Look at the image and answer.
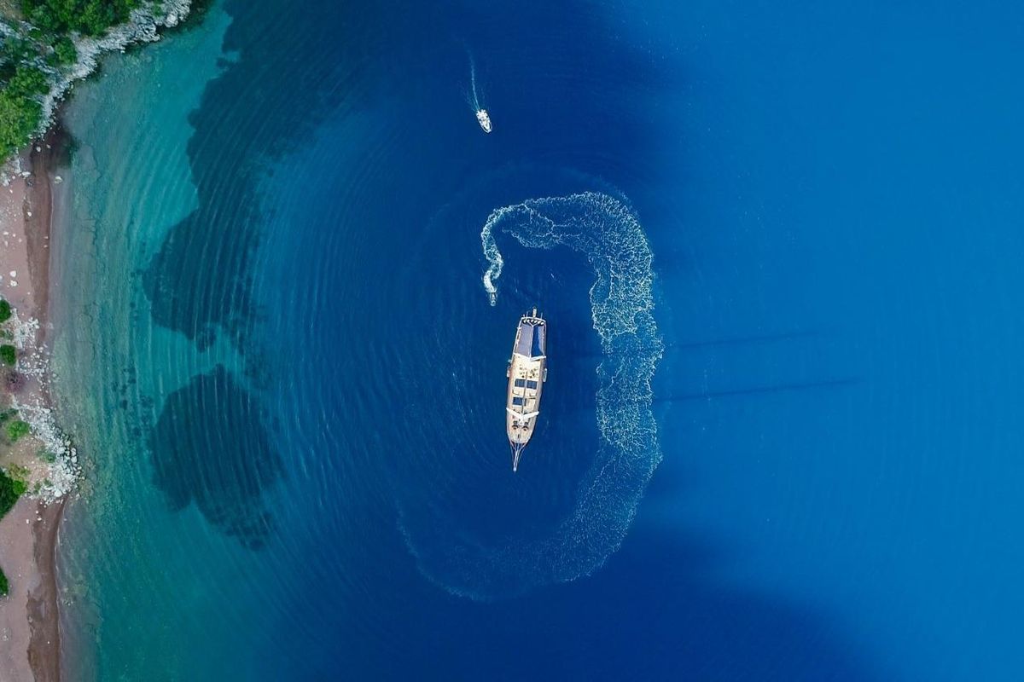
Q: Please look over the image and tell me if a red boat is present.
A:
No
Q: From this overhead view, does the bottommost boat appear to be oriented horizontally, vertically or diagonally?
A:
vertically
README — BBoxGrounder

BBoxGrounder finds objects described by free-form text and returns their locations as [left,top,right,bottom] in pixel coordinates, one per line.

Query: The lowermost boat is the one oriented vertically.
[506,308,547,471]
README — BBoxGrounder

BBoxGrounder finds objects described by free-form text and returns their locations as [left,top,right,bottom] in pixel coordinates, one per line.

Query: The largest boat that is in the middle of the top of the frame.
[476,110,491,133]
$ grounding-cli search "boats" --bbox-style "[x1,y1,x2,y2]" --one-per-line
[490,292,496,306]
[476,110,491,133]
[506,308,547,471]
